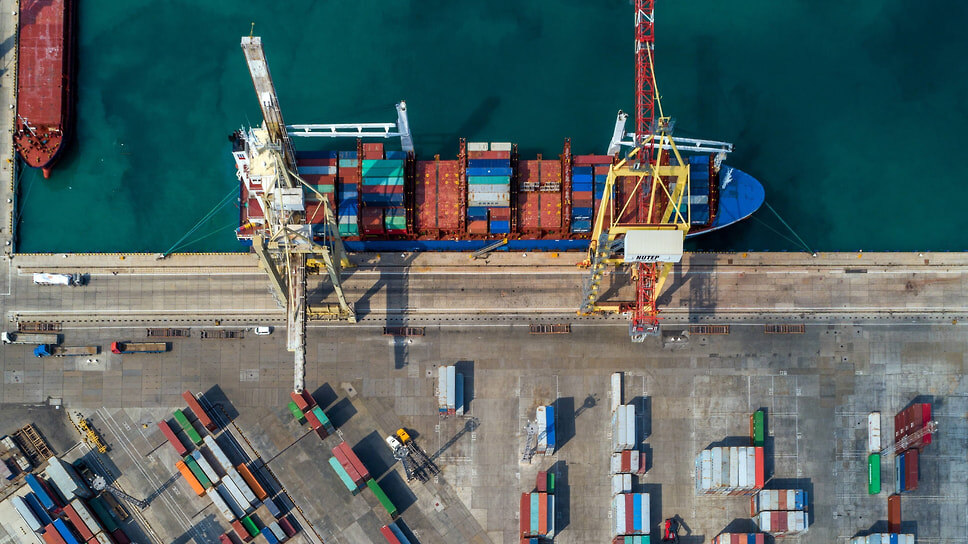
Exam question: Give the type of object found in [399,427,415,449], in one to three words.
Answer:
work vehicle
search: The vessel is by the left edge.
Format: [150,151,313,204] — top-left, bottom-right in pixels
[11,0,76,179]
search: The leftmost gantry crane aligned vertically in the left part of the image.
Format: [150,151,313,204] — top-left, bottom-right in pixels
[234,22,360,395]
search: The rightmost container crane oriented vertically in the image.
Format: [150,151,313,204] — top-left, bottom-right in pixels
[567,0,693,353]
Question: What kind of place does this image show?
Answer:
port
